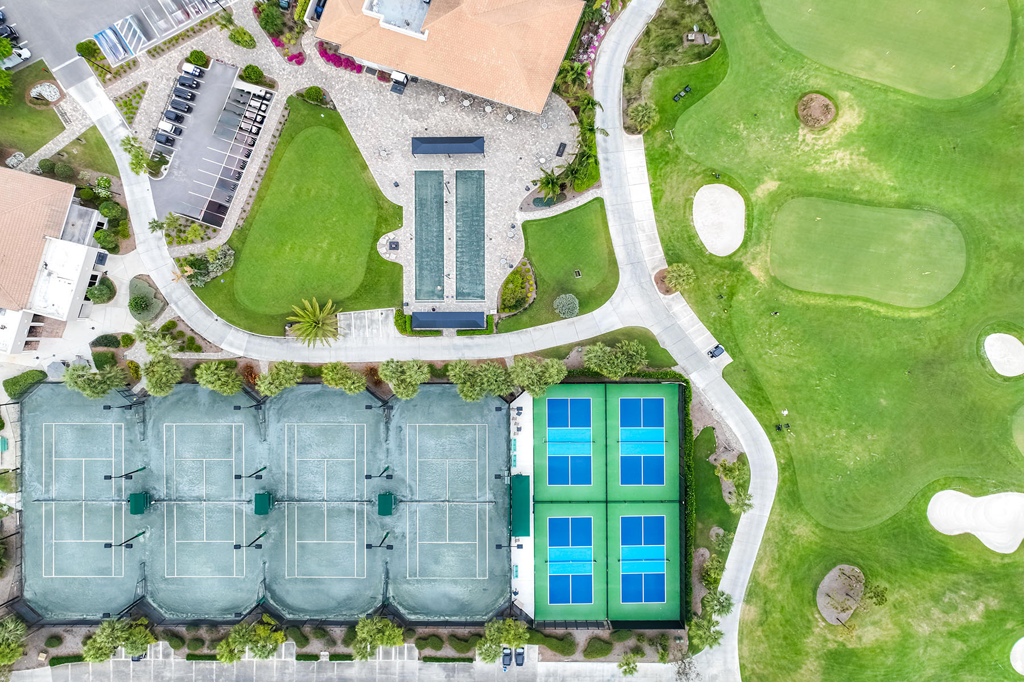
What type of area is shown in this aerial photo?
golf course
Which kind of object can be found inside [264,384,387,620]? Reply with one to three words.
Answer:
tennis court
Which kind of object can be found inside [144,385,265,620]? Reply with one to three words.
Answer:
tennis court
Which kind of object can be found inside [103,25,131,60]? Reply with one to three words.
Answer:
car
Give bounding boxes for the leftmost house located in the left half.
[0,165,110,355]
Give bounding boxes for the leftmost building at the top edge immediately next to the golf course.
[314,0,587,115]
